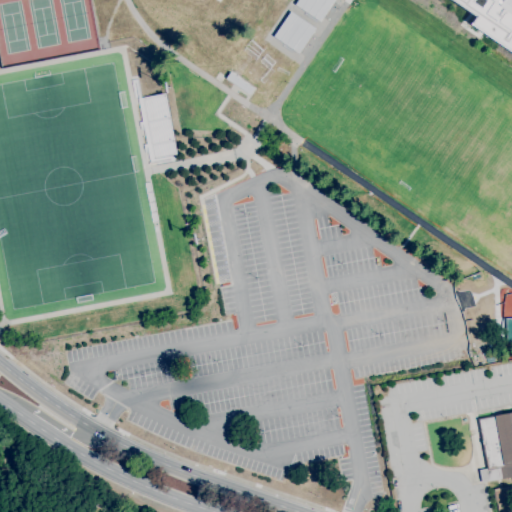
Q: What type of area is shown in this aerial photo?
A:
sports ground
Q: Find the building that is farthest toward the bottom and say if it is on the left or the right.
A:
right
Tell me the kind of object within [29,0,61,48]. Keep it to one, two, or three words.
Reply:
tennis court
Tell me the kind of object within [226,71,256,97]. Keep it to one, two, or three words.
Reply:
shed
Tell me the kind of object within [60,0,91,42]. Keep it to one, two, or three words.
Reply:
tennis court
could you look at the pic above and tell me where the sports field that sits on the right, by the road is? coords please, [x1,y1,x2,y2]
[284,0,512,274]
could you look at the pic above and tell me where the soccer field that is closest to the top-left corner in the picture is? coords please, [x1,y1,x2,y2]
[0,50,166,320]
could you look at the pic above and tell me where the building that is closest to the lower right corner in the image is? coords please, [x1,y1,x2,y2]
[480,413,512,482]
